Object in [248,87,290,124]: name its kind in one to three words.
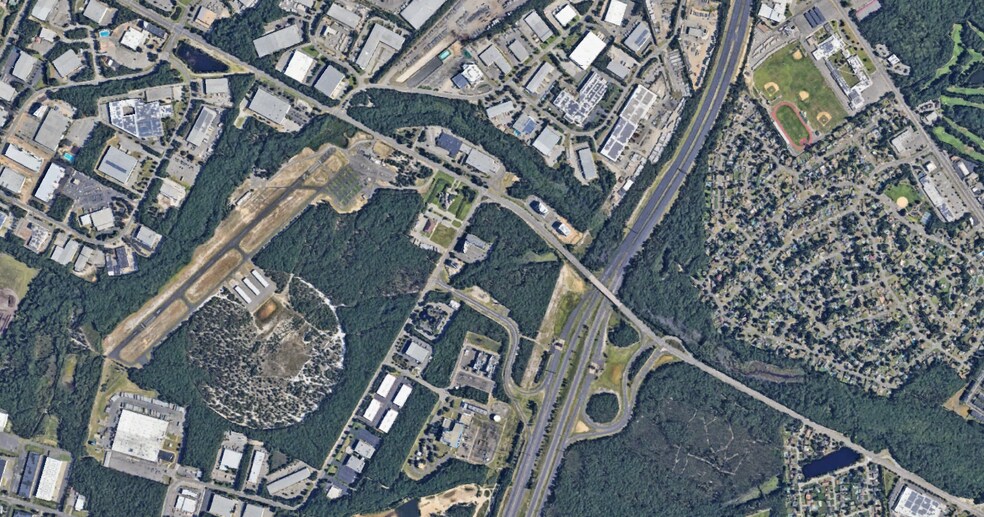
building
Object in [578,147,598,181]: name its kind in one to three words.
building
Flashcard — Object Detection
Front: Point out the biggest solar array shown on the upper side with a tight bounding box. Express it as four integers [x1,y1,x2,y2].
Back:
[438,134,459,155]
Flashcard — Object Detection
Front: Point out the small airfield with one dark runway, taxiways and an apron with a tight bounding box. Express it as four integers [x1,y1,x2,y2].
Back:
[108,145,395,365]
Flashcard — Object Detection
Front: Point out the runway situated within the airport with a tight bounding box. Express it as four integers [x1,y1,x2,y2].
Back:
[108,145,335,359]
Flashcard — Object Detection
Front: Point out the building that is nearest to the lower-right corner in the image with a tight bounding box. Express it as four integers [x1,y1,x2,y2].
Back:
[890,485,948,517]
